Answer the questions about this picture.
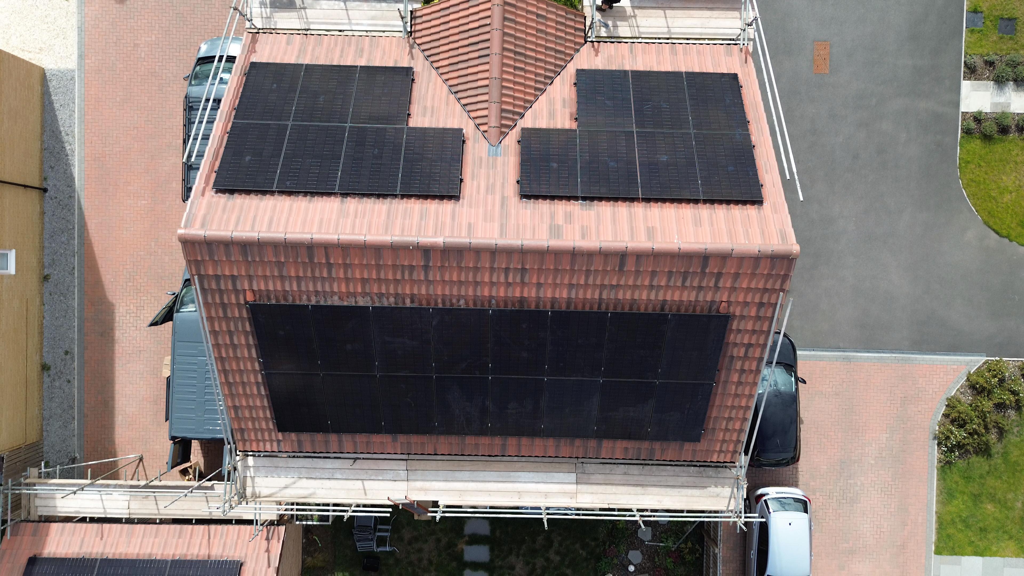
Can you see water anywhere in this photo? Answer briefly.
No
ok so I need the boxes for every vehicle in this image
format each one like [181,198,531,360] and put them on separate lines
[176,38,239,217]
[741,483,812,576]
[147,263,239,484]
[740,328,809,470]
